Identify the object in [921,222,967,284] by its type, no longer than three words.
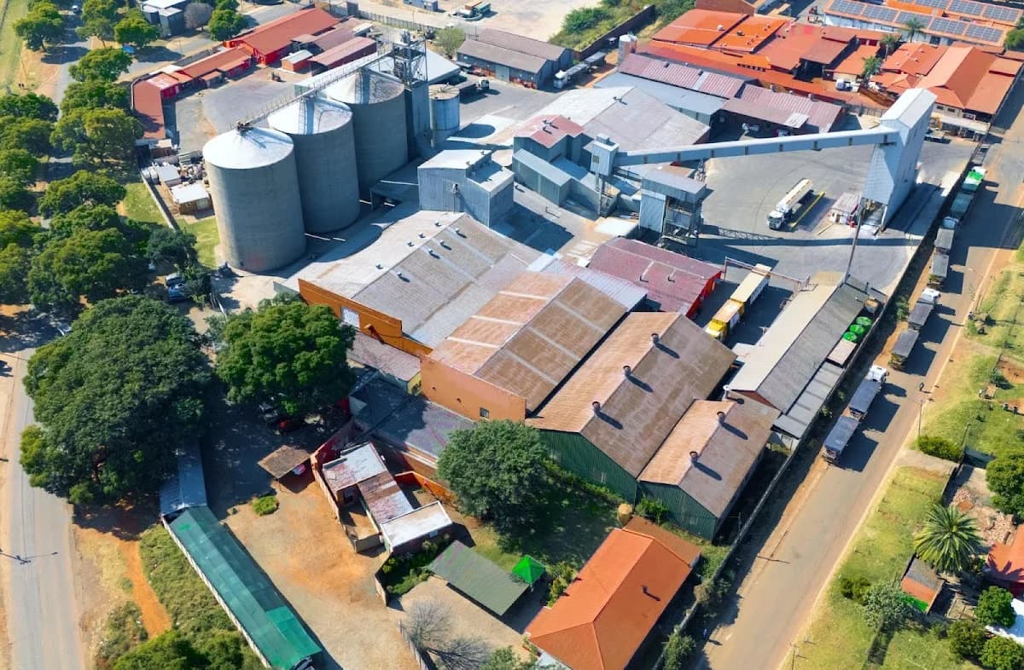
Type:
truck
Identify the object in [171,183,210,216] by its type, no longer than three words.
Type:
house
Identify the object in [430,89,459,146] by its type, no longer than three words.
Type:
storage tank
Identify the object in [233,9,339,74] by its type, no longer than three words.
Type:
building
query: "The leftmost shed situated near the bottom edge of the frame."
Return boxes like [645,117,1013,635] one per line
[168,510,329,670]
